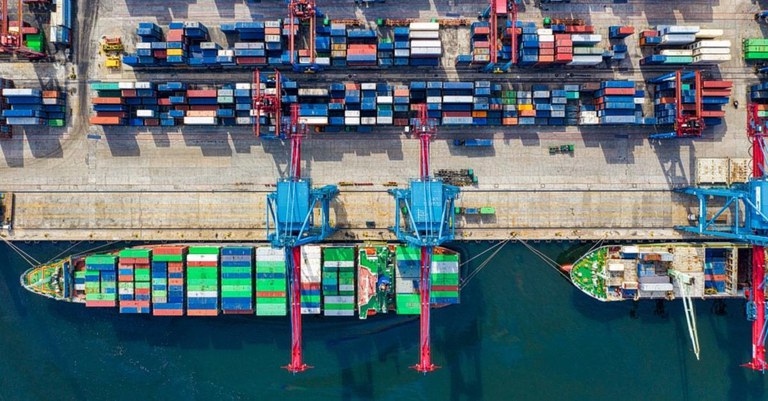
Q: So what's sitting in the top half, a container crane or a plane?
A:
container crane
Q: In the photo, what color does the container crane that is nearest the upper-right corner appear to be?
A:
red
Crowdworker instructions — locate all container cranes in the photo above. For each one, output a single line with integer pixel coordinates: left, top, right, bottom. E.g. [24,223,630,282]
[0,0,52,58]
[286,0,324,78]
[384,103,455,378]
[646,69,705,141]
[478,0,520,78]
[252,69,293,141]
[265,103,343,378]
[672,103,768,378]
